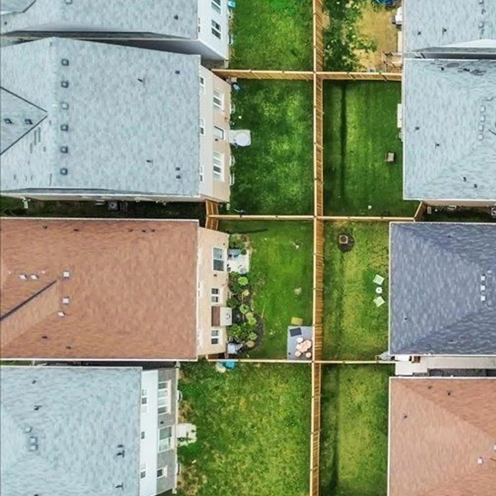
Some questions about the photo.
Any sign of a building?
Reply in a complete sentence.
Yes, the image includes a building.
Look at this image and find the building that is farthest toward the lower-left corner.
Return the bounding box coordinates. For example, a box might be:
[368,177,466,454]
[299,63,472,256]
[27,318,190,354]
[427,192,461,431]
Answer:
[0,367,179,496]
